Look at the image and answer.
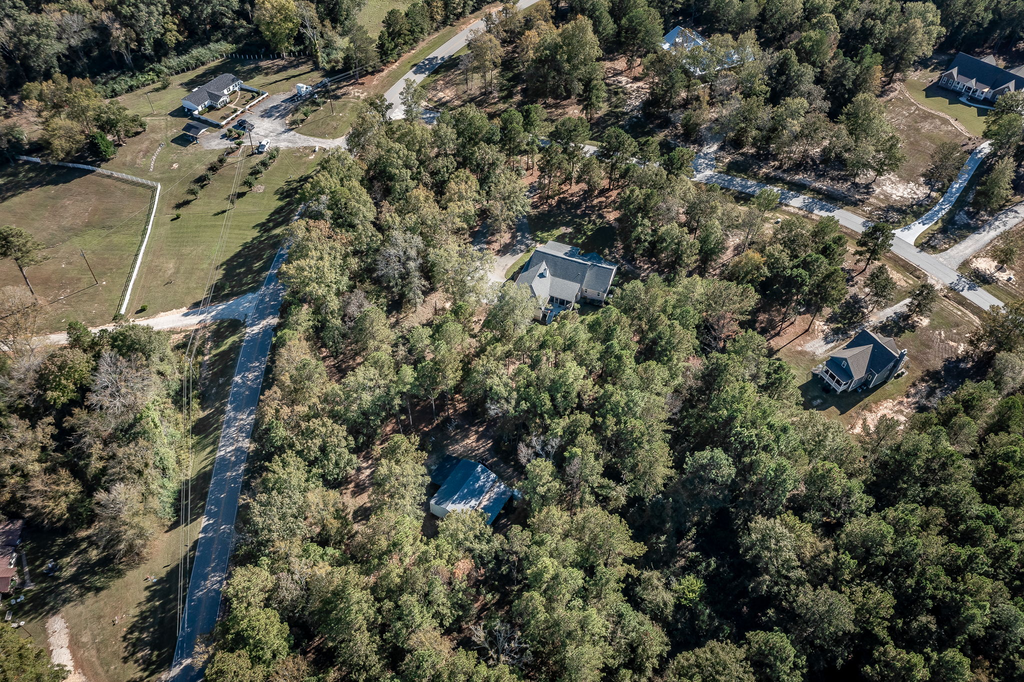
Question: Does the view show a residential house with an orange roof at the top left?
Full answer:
No, no residential house with an orange roof is visible at the top left.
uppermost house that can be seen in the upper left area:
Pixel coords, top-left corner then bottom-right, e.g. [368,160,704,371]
[177,73,241,114]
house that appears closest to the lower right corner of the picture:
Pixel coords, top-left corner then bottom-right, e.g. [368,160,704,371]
[808,324,913,392]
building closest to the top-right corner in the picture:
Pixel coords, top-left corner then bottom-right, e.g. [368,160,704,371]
[938,54,1024,109]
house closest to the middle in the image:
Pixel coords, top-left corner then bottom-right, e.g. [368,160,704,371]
[508,240,619,316]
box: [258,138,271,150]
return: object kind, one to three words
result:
vehicle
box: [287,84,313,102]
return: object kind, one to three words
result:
vehicle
